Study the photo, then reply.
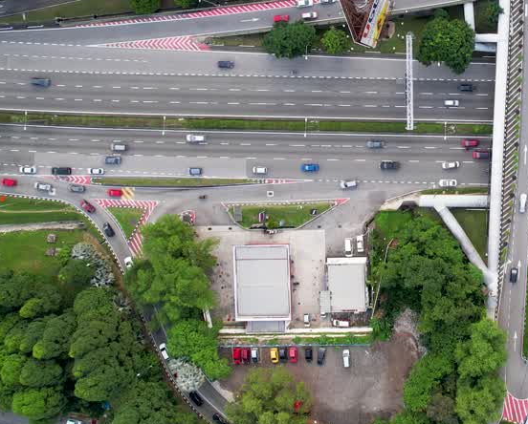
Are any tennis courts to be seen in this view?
No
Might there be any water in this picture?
No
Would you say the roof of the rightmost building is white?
Yes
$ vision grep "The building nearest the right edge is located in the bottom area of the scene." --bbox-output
[320,254,369,313]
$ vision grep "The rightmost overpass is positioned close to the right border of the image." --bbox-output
[496,0,528,358]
